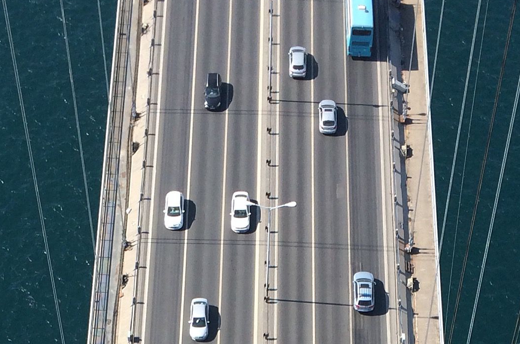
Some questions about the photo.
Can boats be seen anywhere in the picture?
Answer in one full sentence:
No, no boat is visible in the view.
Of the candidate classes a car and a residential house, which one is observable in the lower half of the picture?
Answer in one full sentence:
The one visible in the lower half of the picture is a car.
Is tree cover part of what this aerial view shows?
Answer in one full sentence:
No, the scene doesn't show any tree cover.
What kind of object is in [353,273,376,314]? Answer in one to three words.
car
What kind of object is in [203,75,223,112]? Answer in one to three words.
car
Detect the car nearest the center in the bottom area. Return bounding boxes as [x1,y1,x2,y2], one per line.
[229,195,252,235]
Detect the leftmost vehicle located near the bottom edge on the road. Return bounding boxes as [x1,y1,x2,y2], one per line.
[188,299,210,343]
